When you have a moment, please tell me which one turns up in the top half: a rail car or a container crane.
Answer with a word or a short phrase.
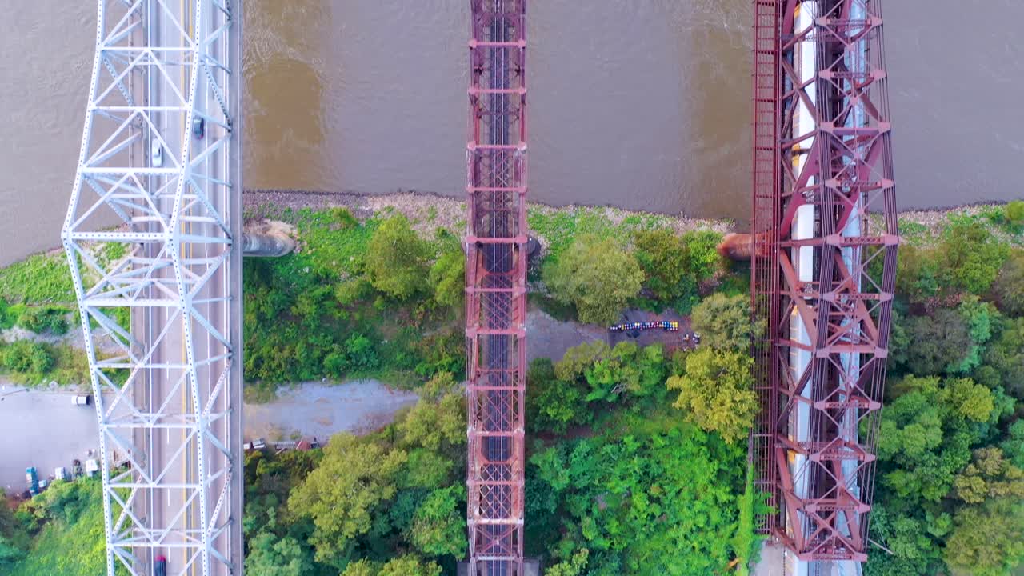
rail car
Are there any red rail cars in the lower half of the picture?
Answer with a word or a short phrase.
No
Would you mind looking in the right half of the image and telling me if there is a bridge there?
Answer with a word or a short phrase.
Yes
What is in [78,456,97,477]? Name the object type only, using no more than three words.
vehicle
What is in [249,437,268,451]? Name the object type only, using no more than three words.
vehicle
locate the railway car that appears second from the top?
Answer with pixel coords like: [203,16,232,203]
[790,152,816,302]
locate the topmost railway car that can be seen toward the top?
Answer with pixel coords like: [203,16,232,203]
[793,0,820,153]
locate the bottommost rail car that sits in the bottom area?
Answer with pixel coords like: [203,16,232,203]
[784,448,810,576]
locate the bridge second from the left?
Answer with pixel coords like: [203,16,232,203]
[461,0,537,576]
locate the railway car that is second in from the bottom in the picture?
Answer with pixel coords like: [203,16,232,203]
[787,303,814,450]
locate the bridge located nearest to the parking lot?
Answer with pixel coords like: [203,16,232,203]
[58,0,291,576]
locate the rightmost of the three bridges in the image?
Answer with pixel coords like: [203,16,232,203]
[716,0,899,576]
